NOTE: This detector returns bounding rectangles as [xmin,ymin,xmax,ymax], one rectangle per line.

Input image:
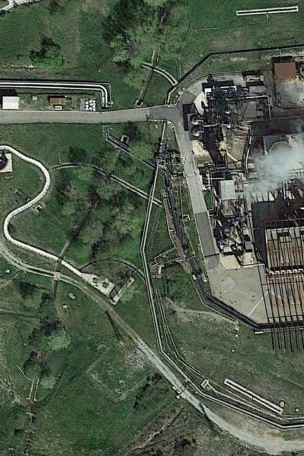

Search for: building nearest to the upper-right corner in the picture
[275,62,297,81]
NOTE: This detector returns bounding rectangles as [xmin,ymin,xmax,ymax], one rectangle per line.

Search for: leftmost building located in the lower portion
[84,274,115,297]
